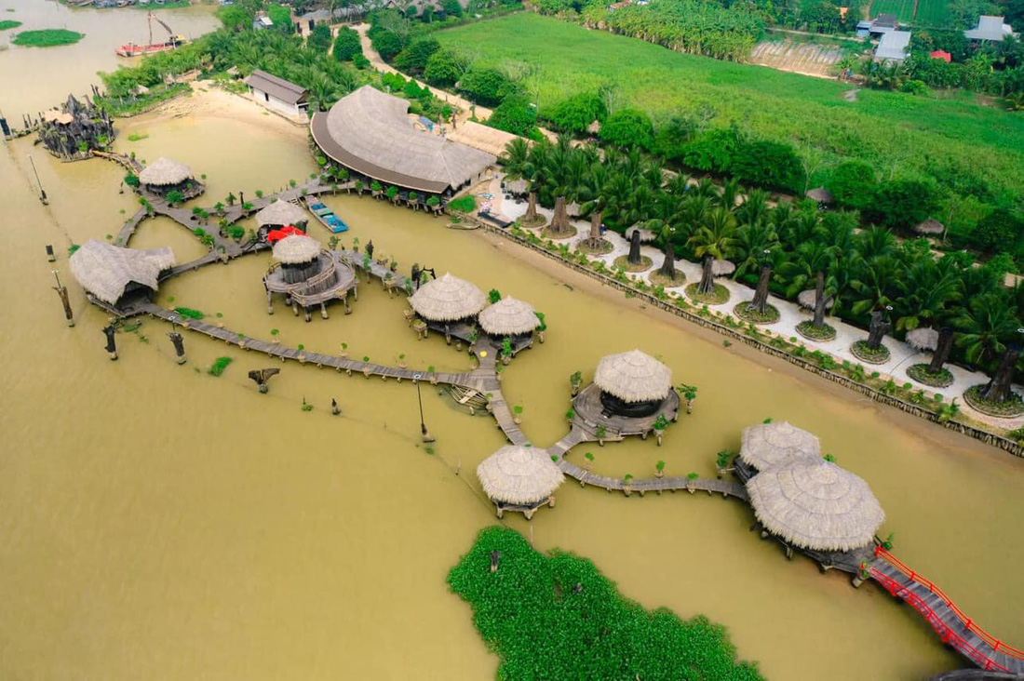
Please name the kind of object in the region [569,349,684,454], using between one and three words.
building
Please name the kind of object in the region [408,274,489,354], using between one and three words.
building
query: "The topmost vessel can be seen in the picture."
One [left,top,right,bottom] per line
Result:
[117,9,187,55]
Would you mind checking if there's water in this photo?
Yes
